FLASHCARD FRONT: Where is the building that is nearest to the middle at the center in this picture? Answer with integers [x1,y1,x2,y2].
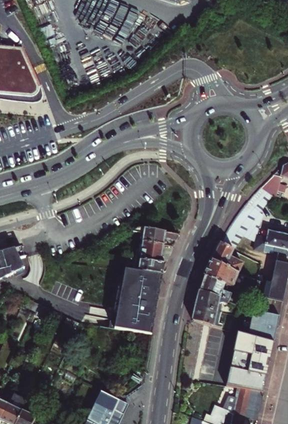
[142,226,166,244]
